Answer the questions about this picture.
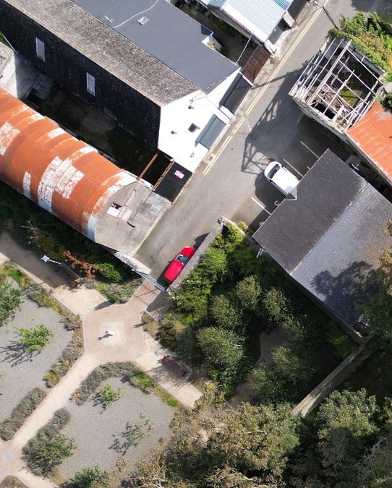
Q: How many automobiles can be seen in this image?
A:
2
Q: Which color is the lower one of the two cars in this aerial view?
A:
red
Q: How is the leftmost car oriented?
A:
at an angle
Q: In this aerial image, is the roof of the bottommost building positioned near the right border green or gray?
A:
gray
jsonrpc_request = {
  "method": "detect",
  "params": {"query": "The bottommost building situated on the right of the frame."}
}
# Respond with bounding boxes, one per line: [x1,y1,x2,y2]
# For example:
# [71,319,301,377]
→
[252,147,392,330]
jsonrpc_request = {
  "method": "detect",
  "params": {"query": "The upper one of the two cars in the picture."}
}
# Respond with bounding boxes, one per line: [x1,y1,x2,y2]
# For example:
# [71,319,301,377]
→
[259,158,299,194]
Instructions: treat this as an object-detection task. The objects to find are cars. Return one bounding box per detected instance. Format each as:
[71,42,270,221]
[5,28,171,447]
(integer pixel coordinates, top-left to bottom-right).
[259,158,299,194]
[157,243,194,282]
